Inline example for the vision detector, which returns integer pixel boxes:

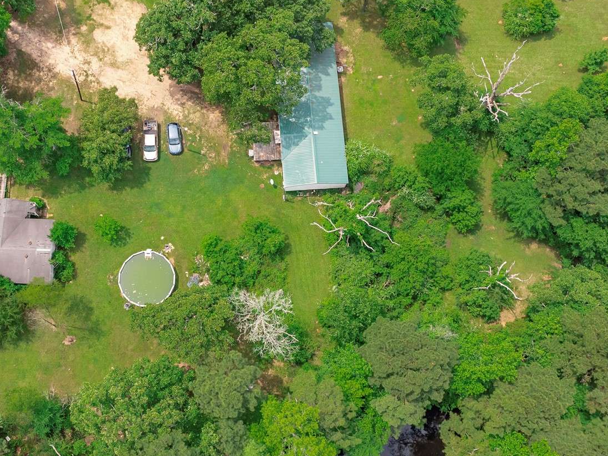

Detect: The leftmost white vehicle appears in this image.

[141,119,159,162]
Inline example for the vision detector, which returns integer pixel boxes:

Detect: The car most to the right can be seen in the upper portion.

[167,122,182,157]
